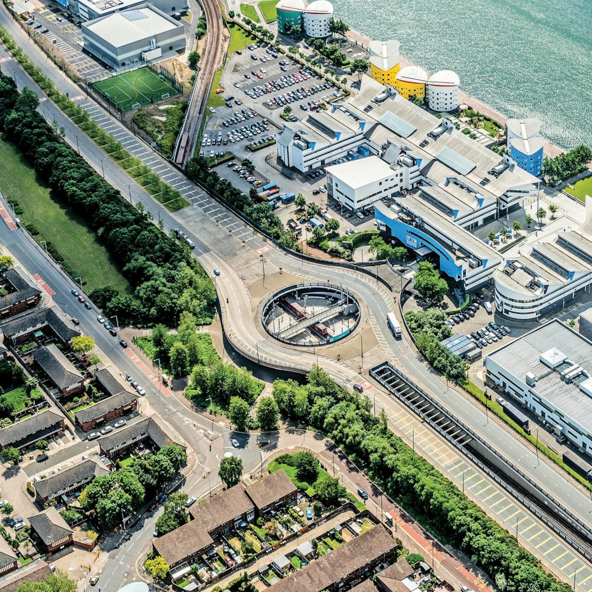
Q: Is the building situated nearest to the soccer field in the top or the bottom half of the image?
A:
top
